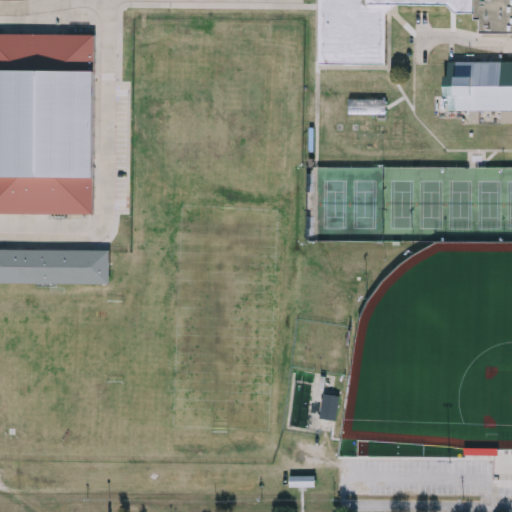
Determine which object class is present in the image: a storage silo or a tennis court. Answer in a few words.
tennis court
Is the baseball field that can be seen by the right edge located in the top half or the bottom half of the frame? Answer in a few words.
bottom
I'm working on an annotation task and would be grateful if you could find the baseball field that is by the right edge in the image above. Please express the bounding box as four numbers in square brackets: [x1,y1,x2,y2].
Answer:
[343,243,512,448]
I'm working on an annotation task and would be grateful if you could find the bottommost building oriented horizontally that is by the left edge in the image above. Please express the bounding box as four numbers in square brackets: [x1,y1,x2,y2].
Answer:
[0,250,110,288]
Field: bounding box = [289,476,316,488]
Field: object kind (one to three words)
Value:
house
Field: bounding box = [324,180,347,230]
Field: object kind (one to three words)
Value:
tennis court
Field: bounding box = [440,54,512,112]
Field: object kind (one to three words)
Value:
building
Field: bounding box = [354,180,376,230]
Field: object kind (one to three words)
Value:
tennis court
